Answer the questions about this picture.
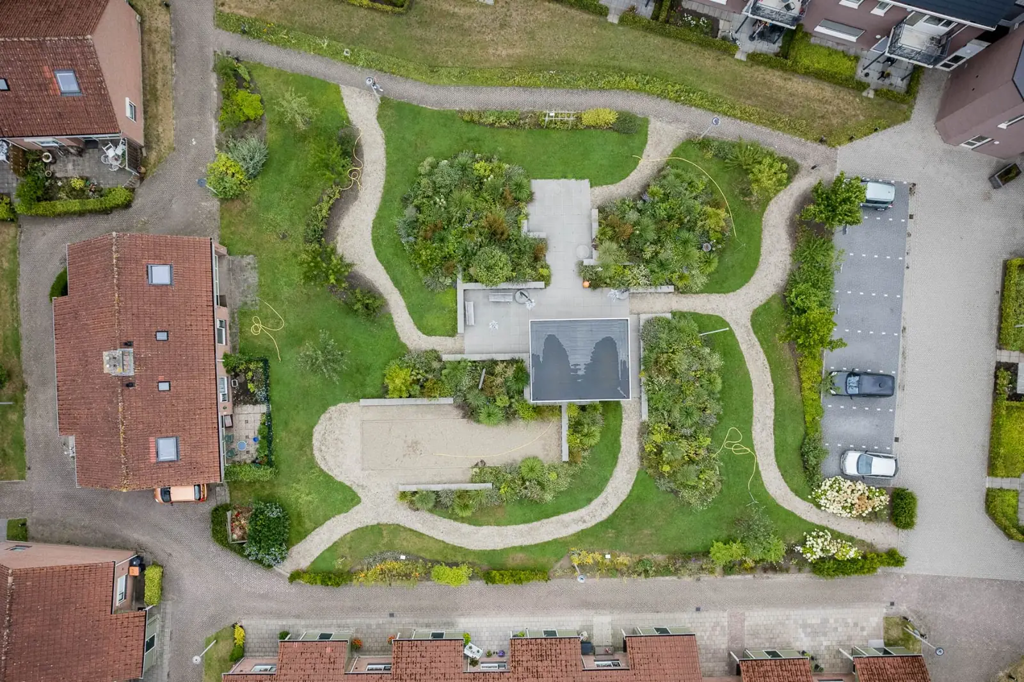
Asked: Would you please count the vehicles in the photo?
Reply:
four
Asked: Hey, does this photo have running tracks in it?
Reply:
No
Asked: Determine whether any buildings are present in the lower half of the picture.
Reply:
Yes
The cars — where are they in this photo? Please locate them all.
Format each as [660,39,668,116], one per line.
[826,367,896,399]
[832,181,897,210]
[836,449,899,480]
[155,485,208,506]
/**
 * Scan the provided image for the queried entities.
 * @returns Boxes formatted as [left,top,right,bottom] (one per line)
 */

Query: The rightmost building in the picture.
[935,0,1024,159]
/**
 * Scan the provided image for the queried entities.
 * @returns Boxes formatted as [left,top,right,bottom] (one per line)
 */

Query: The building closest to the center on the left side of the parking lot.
[529,318,632,403]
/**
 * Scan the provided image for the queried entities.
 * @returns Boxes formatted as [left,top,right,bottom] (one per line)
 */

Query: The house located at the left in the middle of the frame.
[51,231,234,493]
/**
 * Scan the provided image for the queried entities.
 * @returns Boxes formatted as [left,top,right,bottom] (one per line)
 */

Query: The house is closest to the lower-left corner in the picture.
[0,537,154,682]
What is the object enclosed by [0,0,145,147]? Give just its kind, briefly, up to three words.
house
